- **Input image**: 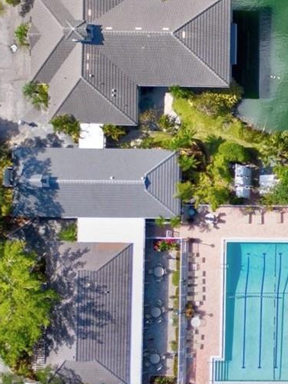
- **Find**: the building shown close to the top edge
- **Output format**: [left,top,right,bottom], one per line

[30,0,242,126]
